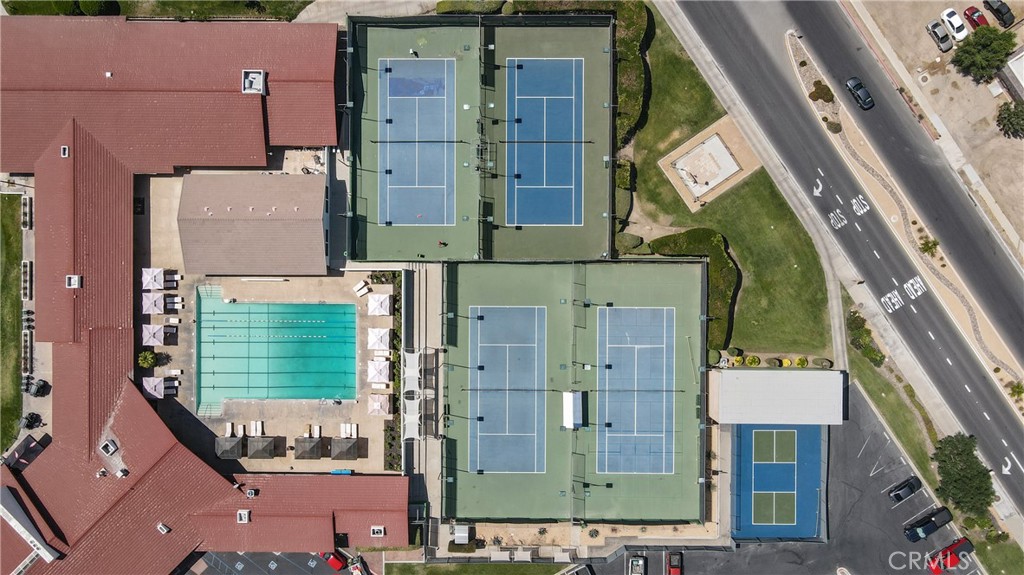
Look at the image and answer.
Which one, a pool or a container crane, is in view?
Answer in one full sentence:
I can see a pool in this picture.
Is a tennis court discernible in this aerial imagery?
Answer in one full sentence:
Yes, a tennis court can be made out from above.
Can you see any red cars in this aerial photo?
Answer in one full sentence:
Yes, there's a red car down there.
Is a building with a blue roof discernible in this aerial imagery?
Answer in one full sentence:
No, there's no building with a blue roof here.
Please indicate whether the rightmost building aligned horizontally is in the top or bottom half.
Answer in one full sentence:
The rightmost building aligned horizontally is in the bottom half of the image.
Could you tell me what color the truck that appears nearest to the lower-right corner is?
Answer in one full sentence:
In this view, the truck that appears nearest to the lower-right corner is red.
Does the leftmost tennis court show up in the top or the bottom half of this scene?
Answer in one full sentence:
The top half of the photo is where the leftmost tennis court is.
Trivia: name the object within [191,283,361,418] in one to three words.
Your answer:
swimming pool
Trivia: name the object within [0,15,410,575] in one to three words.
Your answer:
building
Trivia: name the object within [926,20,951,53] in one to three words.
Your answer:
car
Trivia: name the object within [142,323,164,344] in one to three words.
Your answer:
umbrella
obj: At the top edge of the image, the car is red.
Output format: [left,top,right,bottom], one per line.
[962,2,989,33]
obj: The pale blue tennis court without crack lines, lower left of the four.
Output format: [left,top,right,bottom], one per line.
[444,262,573,518]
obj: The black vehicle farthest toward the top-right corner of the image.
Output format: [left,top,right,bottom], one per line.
[983,0,1012,28]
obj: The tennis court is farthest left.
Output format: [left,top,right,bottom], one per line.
[352,24,481,261]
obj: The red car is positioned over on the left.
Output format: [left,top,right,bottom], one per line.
[320,552,347,574]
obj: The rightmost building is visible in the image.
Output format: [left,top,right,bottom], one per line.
[996,51,1024,108]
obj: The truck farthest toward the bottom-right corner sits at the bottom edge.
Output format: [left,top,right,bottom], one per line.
[930,539,974,571]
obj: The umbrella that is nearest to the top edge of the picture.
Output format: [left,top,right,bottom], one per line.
[142,268,164,289]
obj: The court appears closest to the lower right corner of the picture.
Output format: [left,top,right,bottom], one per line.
[732,425,821,538]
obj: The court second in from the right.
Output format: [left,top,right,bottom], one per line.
[573,262,701,518]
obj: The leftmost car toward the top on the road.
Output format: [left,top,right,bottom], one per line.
[845,77,873,111]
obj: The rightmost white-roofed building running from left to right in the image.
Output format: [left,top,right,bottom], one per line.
[709,368,843,425]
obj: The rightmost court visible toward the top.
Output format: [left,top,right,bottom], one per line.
[481,24,611,261]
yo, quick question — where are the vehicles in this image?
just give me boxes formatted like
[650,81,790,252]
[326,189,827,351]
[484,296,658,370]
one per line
[845,77,873,111]
[939,7,967,42]
[926,20,951,53]
[888,476,921,501]
[930,539,974,571]
[905,507,952,541]
[983,0,1012,28]
[962,2,989,33]
[320,552,347,574]
[667,551,683,575]
[346,556,367,575]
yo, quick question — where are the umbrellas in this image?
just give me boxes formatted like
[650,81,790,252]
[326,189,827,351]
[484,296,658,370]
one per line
[142,292,164,314]
[142,268,164,289]
[142,323,164,344]
[143,377,165,398]
[368,394,389,415]
[368,328,390,350]
[368,294,390,315]
[368,361,389,382]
